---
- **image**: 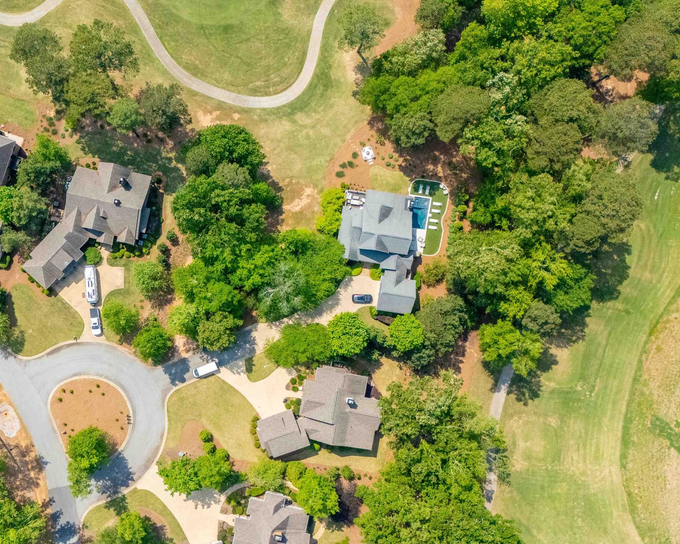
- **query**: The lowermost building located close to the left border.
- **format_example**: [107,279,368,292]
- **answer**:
[19,163,152,294]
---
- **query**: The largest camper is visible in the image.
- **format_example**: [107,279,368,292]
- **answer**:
[83,265,99,307]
